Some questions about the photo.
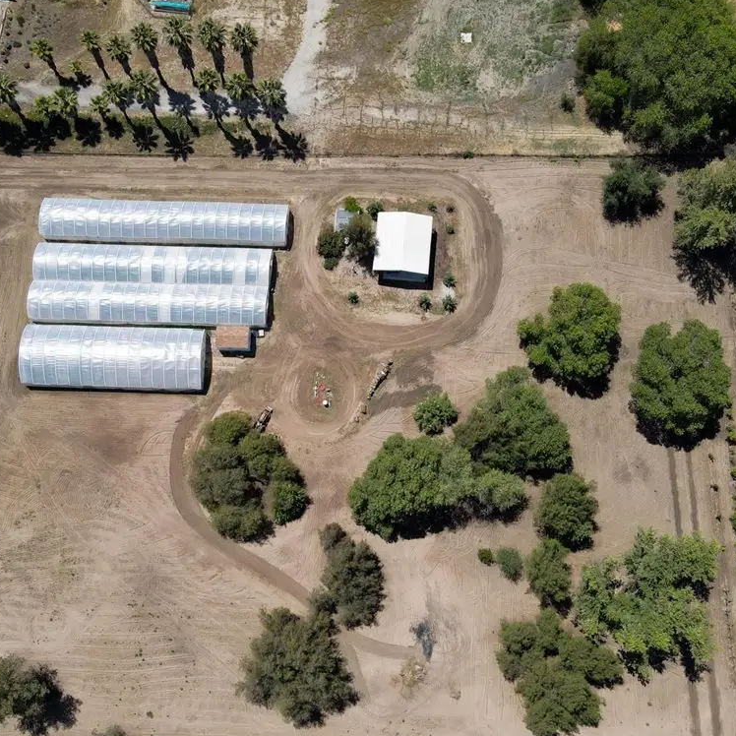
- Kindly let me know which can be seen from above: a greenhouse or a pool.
greenhouse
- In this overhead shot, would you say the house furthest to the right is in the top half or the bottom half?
top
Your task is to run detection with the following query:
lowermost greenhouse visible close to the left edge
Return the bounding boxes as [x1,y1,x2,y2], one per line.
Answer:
[16,328,208,392]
